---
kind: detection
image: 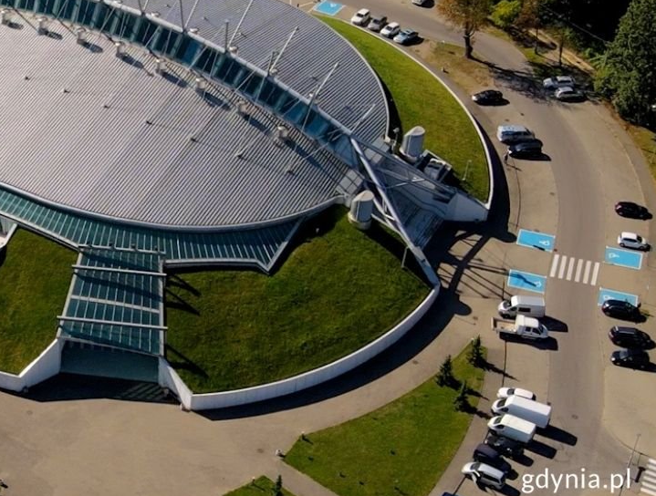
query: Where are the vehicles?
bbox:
[554,89,588,103]
[498,385,534,399]
[365,15,391,31]
[393,30,421,45]
[472,90,505,104]
[606,298,639,320]
[501,125,532,142]
[495,314,546,340]
[610,351,652,371]
[486,412,539,444]
[509,142,544,157]
[483,434,528,460]
[378,19,401,37]
[617,201,649,220]
[461,461,505,490]
[349,5,371,24]
[493,392,552,425]
[471,447,515,477]
[498,291,548,316]
[617,232,651,252]
[409,0,430,5]
[611,327,651,348]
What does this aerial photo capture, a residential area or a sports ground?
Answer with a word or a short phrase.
sports ground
